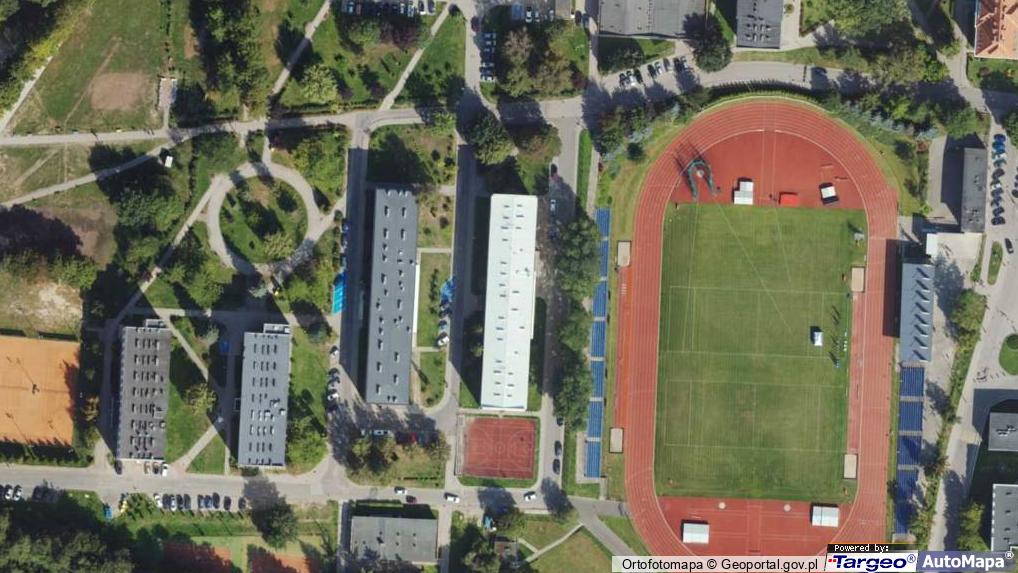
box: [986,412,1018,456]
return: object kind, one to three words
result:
building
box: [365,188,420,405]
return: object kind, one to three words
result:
building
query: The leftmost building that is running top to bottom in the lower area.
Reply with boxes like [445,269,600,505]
[115,319,171,461]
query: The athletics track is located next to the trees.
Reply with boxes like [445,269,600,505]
[612,101,897,573]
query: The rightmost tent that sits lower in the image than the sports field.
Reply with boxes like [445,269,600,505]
[812,506,838,527]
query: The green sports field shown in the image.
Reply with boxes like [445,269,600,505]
[655,200,868,502]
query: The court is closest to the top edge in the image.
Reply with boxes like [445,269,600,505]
[0,335,80,447]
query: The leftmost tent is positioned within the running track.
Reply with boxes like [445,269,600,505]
[683,524,709,544]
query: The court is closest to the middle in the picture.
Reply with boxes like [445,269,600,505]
[463,417,536,479]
